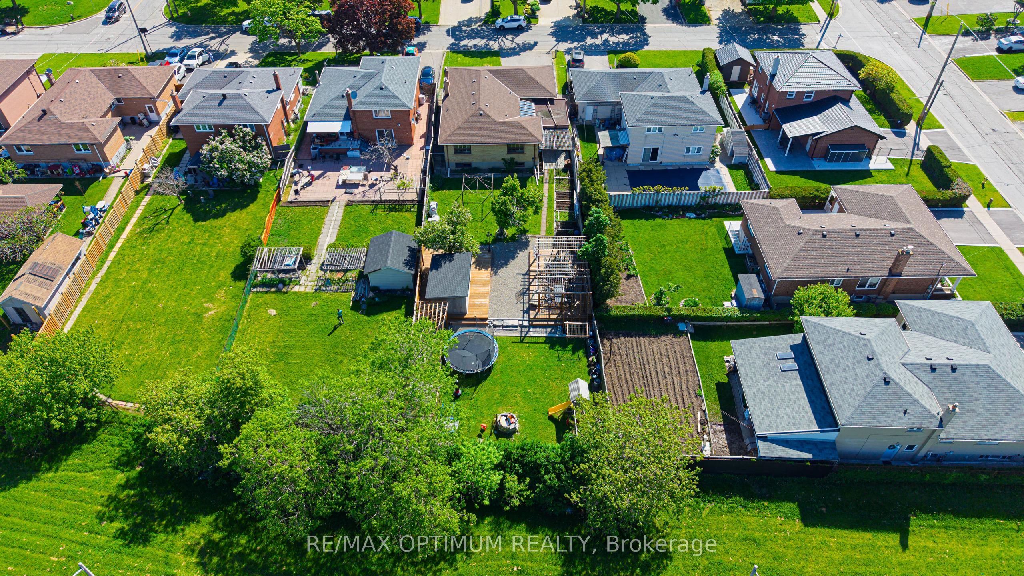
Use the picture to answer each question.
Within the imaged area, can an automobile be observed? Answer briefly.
Yes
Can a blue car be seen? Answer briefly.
Yes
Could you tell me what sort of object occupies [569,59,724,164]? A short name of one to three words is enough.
house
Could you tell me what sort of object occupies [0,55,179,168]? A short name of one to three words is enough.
house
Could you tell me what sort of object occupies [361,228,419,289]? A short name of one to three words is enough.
shed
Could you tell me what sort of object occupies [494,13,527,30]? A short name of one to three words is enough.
car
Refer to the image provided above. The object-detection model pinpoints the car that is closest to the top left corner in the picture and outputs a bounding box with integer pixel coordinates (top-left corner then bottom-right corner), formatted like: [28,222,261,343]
[99,0,131,22]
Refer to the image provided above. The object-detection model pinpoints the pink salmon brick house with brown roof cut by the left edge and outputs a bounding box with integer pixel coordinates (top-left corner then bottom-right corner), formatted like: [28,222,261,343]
[0,58,44,130]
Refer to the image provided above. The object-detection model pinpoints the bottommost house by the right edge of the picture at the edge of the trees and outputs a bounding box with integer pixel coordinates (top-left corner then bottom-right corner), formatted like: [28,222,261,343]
[727,299,1024,471]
